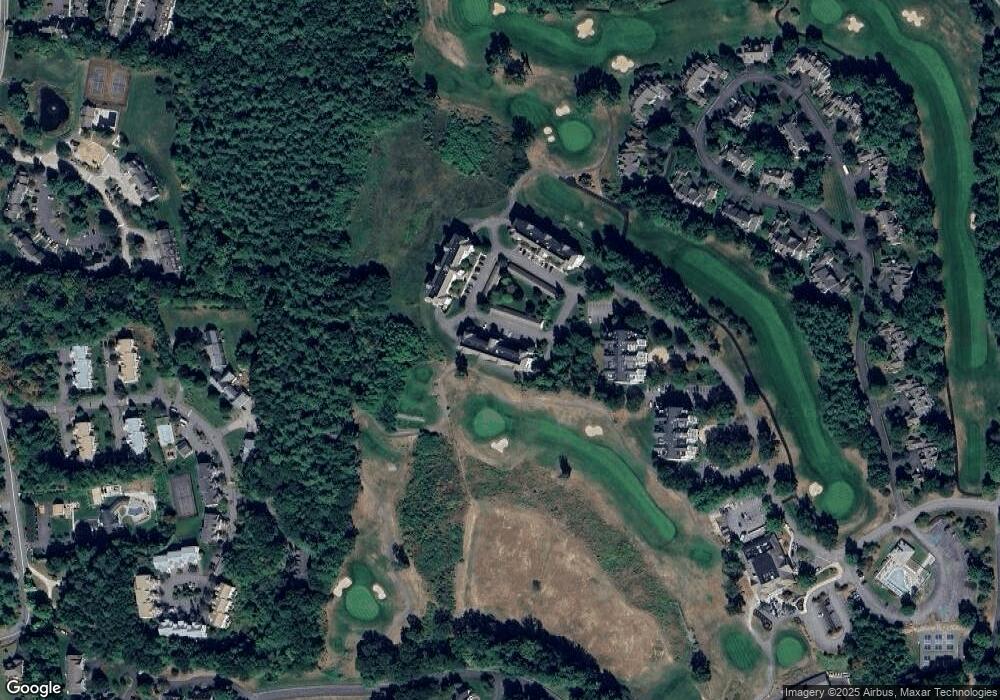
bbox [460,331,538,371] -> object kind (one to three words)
building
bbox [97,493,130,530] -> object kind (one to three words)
building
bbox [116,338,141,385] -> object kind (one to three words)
house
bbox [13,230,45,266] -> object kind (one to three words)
house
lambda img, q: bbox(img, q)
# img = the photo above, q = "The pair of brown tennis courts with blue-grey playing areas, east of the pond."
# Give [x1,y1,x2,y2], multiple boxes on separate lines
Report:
[84,61,131,105]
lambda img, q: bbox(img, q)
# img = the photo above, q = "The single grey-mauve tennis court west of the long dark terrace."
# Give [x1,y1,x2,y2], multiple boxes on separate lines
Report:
[171,473,198,517]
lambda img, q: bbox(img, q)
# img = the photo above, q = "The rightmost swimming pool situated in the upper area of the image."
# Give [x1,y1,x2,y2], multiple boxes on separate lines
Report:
[94,109,118,132]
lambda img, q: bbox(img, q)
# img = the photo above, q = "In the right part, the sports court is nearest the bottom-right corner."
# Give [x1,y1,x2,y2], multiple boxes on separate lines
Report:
[920,631,958,668]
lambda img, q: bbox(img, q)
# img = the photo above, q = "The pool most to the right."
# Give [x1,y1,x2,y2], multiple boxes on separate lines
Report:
[876,538,934,595]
